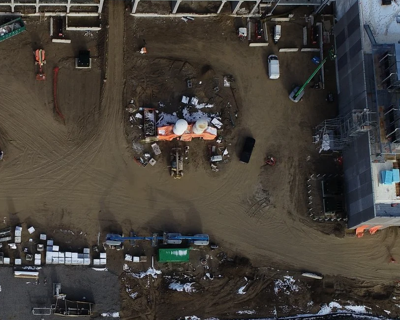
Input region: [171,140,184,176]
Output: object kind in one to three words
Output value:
vehicle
